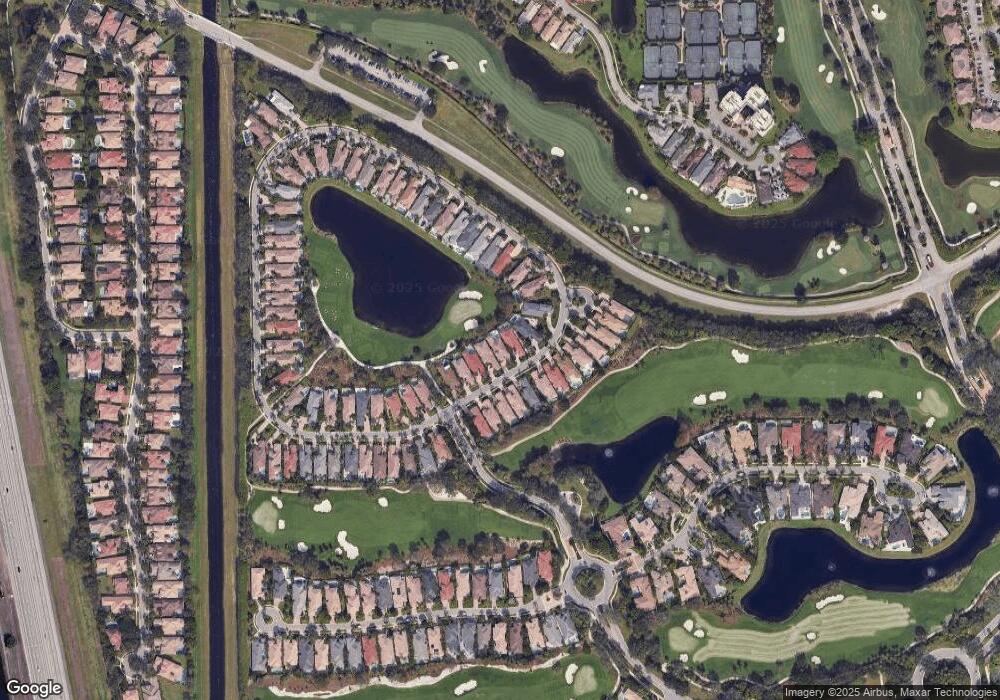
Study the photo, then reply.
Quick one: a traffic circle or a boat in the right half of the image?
traffic circle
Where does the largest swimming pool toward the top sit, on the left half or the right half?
right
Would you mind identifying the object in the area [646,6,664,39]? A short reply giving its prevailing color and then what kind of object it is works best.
gray tennis court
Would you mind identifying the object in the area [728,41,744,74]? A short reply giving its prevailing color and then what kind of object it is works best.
gray tennis court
